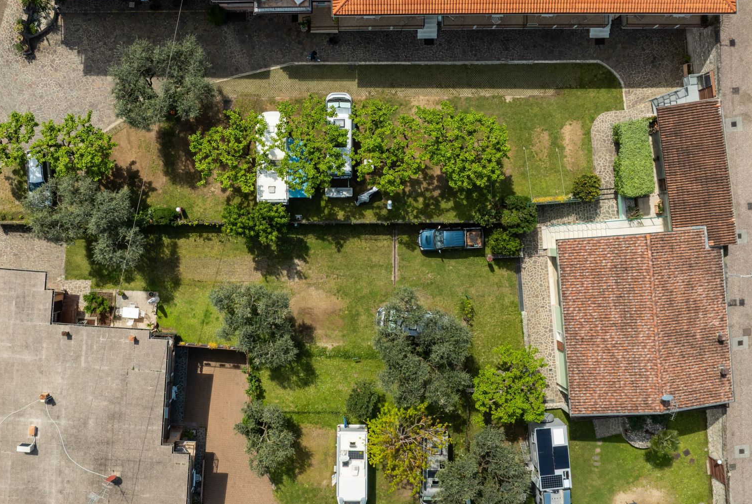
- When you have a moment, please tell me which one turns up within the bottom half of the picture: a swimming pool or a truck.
truck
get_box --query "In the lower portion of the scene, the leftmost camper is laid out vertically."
[329,419,369,504]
